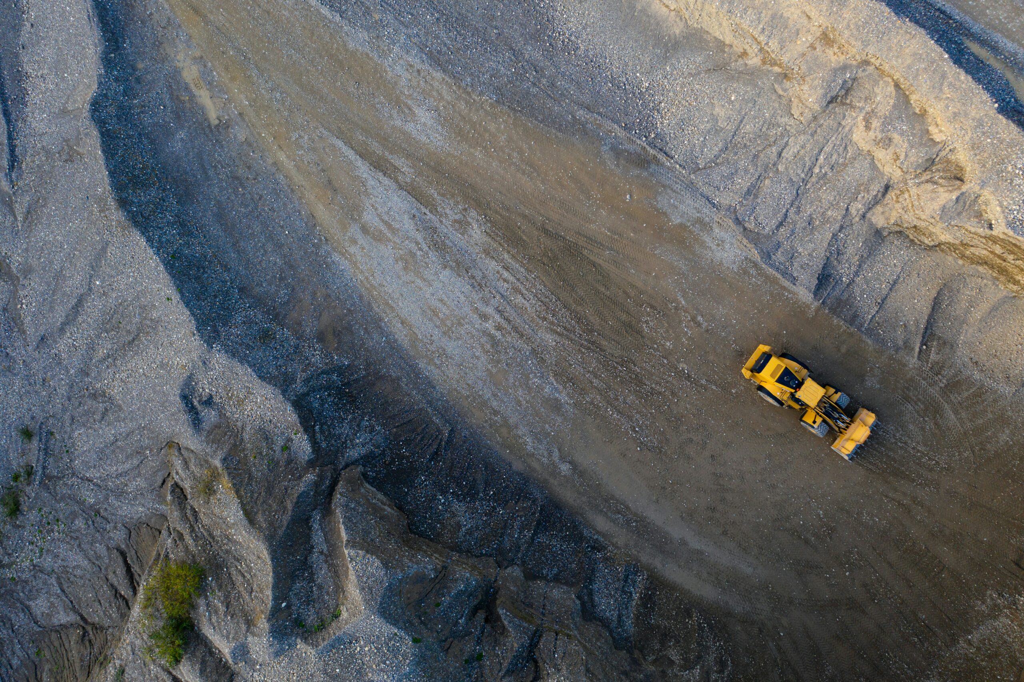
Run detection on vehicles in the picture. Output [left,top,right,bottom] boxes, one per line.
[738,345,880,462]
